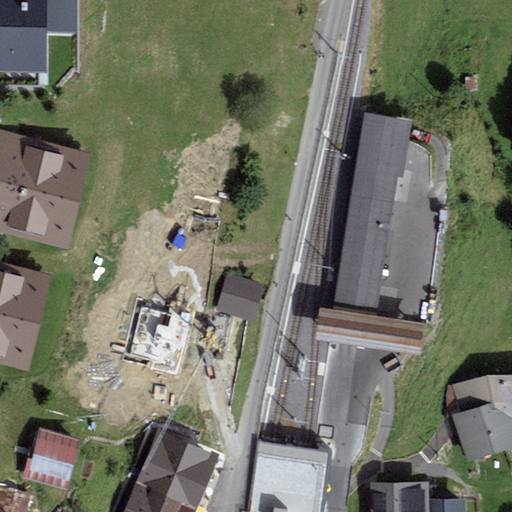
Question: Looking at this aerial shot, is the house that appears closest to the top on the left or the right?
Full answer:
The house that appears closest to the top is on the left side of the image.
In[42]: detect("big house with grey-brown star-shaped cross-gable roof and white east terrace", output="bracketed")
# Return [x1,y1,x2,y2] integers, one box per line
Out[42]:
[119,434,225,512]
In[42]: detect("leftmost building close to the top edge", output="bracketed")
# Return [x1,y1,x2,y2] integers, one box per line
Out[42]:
[0,0,76,73]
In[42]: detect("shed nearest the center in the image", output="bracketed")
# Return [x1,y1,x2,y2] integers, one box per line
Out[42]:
[217,276,264,322]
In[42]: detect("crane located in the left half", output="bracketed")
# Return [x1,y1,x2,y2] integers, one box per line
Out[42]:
[143,328,218,470]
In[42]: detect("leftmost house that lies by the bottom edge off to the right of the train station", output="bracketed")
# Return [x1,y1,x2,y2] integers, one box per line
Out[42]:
[372,482,430,512]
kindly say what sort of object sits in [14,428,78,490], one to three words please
barn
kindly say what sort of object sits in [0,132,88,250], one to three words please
house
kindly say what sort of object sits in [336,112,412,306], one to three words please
building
